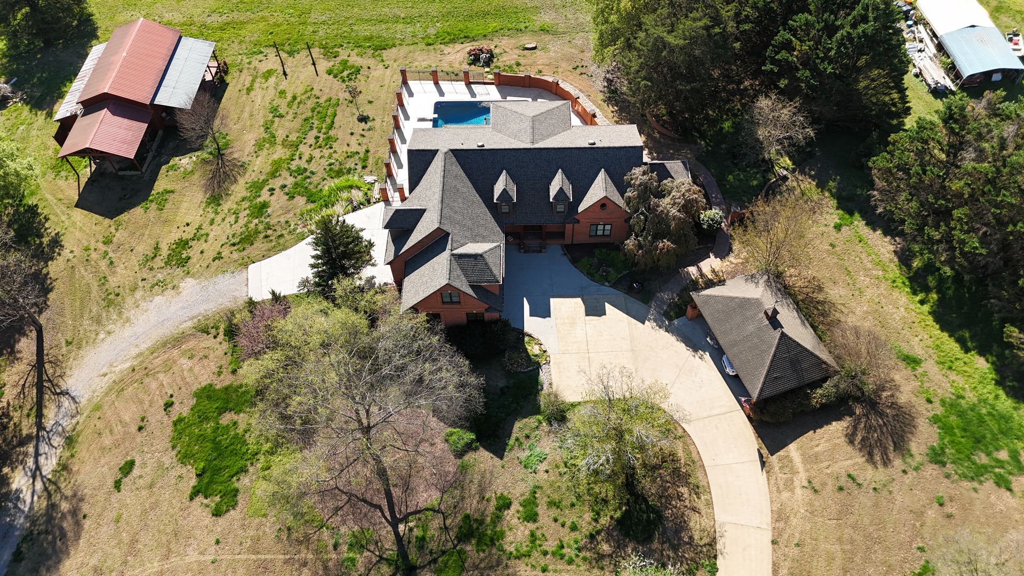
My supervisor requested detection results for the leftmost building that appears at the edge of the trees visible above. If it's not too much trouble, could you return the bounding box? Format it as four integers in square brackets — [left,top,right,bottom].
[58,17,223,180]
